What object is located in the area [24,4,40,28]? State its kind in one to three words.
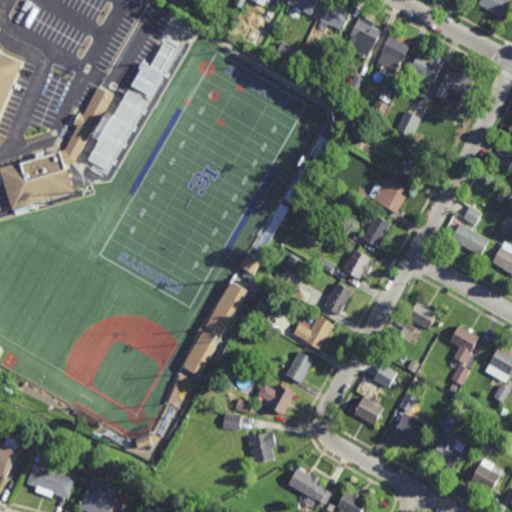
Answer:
vehicle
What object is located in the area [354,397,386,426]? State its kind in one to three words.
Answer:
house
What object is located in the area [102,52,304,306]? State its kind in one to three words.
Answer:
sports field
